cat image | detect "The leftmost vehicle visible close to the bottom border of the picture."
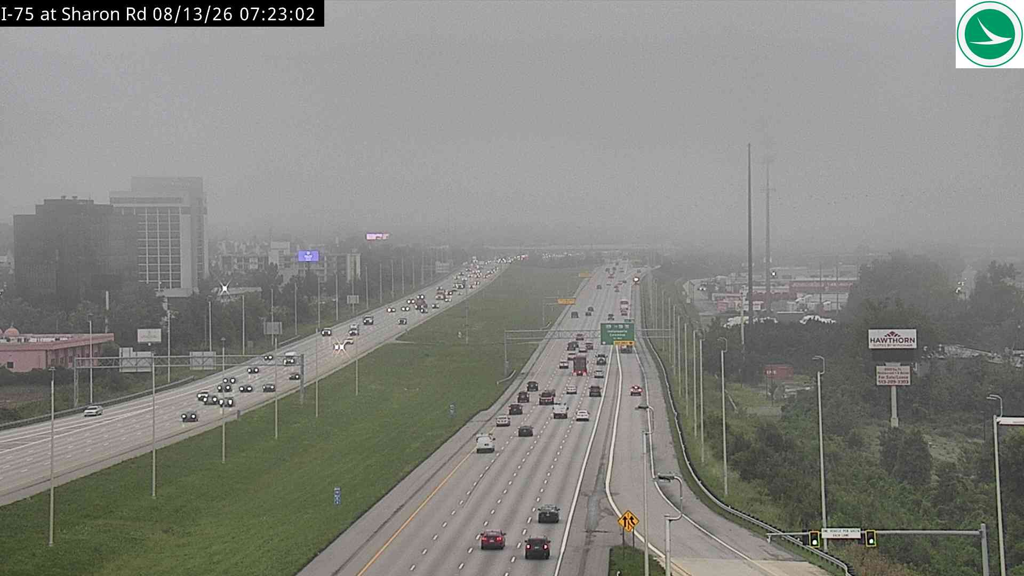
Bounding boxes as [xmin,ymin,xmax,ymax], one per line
[481,528,508,548]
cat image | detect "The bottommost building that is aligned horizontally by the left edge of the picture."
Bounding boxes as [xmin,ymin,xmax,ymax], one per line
[0,326,117,373]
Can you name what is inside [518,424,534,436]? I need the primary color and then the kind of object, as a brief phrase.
gray vehicle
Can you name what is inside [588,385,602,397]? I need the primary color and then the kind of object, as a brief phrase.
gray vehicle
